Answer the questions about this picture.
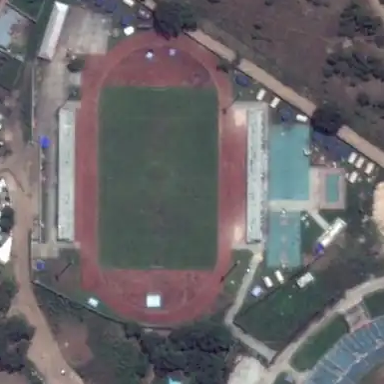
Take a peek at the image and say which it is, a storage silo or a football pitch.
football pitch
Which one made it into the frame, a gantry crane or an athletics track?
athletics track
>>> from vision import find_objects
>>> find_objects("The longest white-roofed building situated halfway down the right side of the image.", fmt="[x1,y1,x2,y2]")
[318,218,347,246]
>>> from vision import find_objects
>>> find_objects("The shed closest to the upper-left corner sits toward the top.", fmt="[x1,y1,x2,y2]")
[0,9,15,45]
